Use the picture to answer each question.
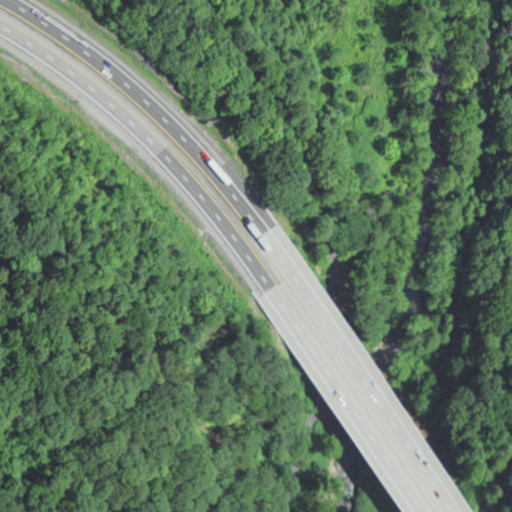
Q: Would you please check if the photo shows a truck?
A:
Yes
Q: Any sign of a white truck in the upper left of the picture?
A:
Yes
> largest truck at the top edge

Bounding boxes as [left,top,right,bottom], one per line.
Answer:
[35,10,78,41]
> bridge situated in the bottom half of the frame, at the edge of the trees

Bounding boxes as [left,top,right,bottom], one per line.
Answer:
[250,208,474,512]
